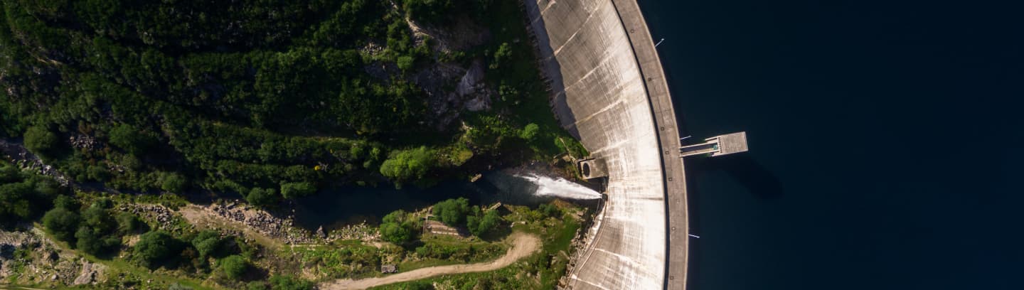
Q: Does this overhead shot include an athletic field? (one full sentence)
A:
No, no athletic field is visible in the scene.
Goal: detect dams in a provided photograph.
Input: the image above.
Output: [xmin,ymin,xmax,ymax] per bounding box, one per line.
[518,0,691,290]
